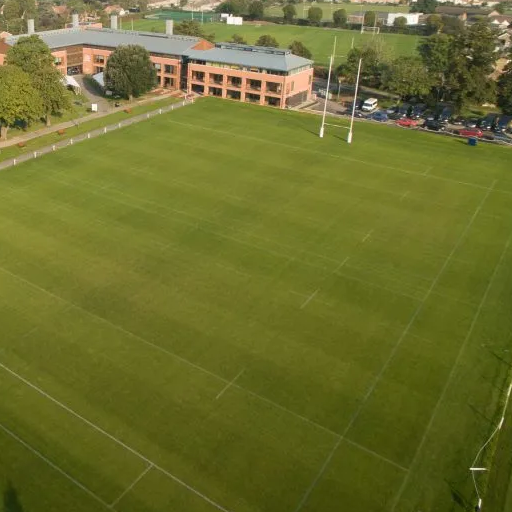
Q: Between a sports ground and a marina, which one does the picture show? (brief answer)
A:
sports ground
